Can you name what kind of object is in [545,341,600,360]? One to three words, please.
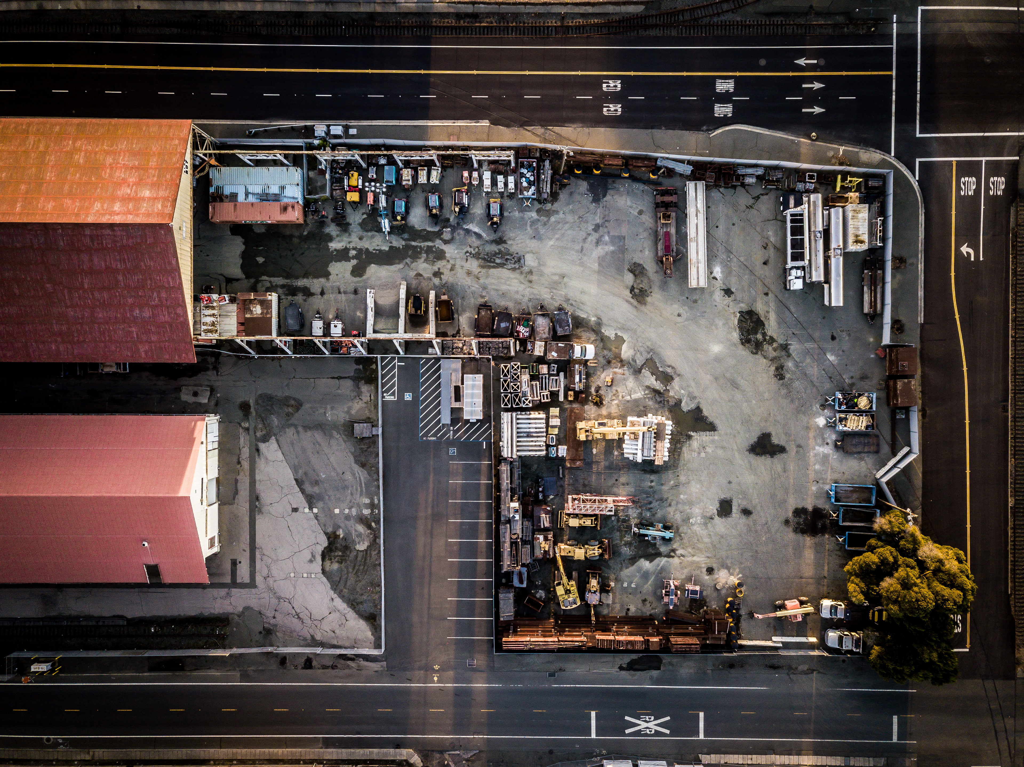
vehicle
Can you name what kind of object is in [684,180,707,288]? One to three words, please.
trailer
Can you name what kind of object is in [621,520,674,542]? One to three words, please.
work vehicle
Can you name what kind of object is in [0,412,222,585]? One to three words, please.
shed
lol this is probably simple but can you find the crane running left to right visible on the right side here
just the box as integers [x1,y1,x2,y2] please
[576,419,658,440]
